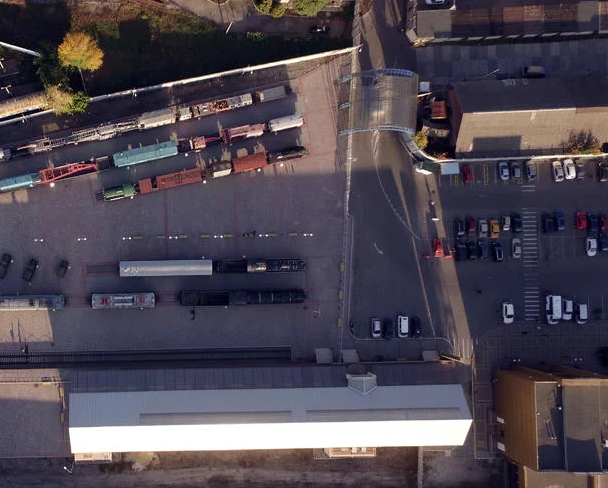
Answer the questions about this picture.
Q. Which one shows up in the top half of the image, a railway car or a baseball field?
railway car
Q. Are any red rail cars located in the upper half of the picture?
Yes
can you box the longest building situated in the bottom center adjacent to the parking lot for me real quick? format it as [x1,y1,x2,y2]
[66,359,469,463]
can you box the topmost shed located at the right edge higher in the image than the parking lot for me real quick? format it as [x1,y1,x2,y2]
[409,2,608,43]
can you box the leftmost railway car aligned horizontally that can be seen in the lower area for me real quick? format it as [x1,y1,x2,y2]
[0,294,67,310]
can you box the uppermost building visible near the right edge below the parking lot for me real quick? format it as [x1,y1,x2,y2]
[494,366,608,473]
